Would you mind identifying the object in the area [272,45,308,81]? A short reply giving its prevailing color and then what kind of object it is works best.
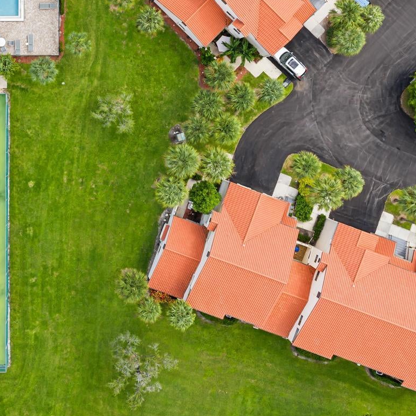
white car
